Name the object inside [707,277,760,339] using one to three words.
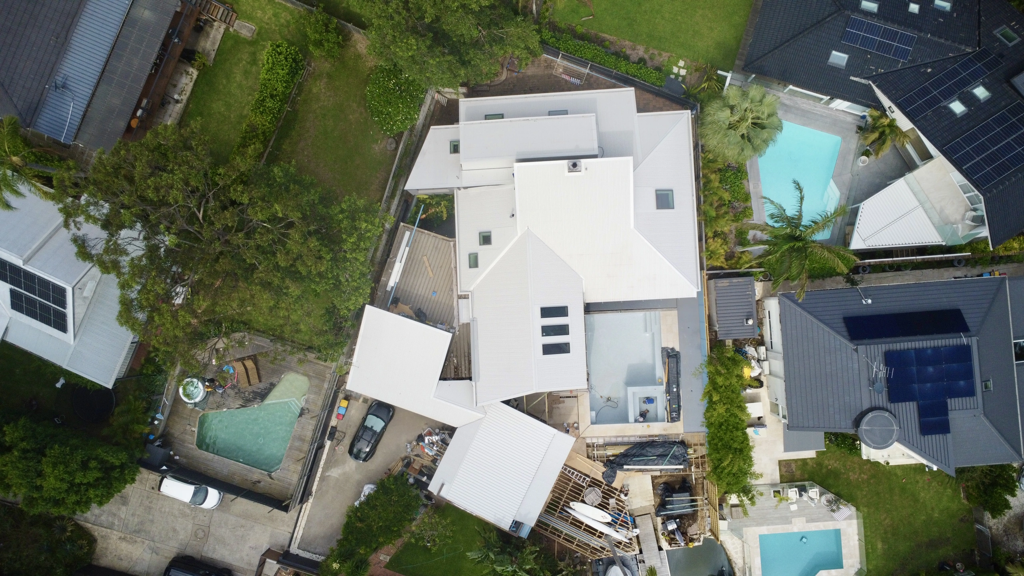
shed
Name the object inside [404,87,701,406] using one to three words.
house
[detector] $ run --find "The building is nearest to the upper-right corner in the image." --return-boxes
[717,0,1024,250]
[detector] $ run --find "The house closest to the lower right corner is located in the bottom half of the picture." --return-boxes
[764,275,1024,479]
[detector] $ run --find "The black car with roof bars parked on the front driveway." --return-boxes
[350,400,394,465]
